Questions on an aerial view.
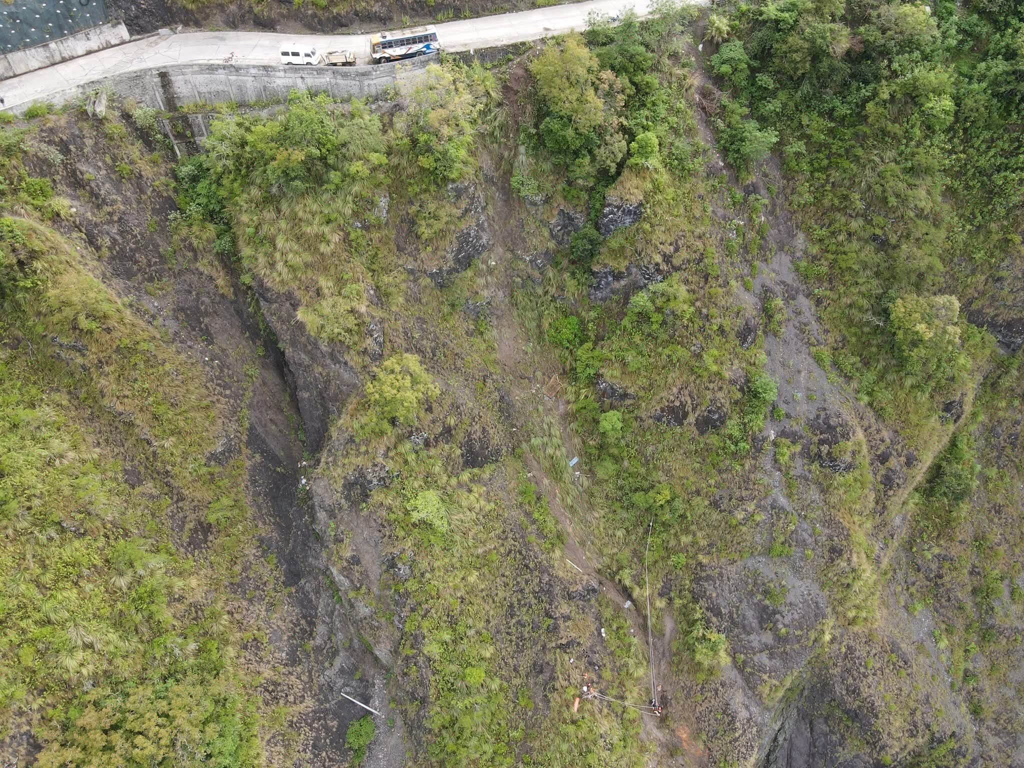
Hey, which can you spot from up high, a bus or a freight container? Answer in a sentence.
The image shows a bus.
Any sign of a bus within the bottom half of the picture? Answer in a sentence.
No, I can find no bus within the bottom half of the picture.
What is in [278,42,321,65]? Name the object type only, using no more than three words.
vehicle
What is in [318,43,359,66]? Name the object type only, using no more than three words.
truck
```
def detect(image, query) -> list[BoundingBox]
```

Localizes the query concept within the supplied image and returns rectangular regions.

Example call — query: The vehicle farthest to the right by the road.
[365,20,441,64]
